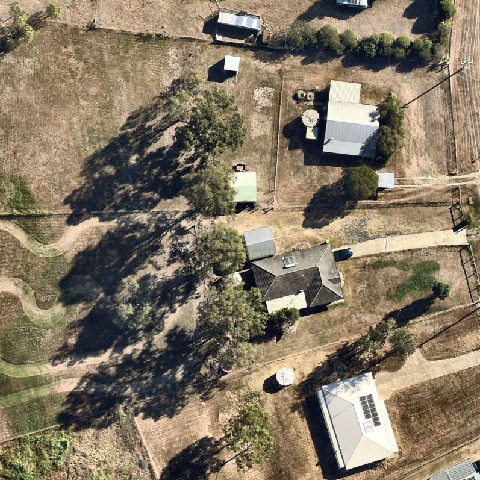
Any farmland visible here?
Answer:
Yes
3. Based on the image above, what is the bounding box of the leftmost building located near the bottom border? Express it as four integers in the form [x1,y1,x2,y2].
[316,372,399,470]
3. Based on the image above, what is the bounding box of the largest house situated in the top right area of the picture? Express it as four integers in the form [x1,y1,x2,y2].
[323,80,379,159]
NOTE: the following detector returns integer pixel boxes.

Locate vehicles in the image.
[337,0,368,9]
[473,460,480,470]
[333,250,354,261]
